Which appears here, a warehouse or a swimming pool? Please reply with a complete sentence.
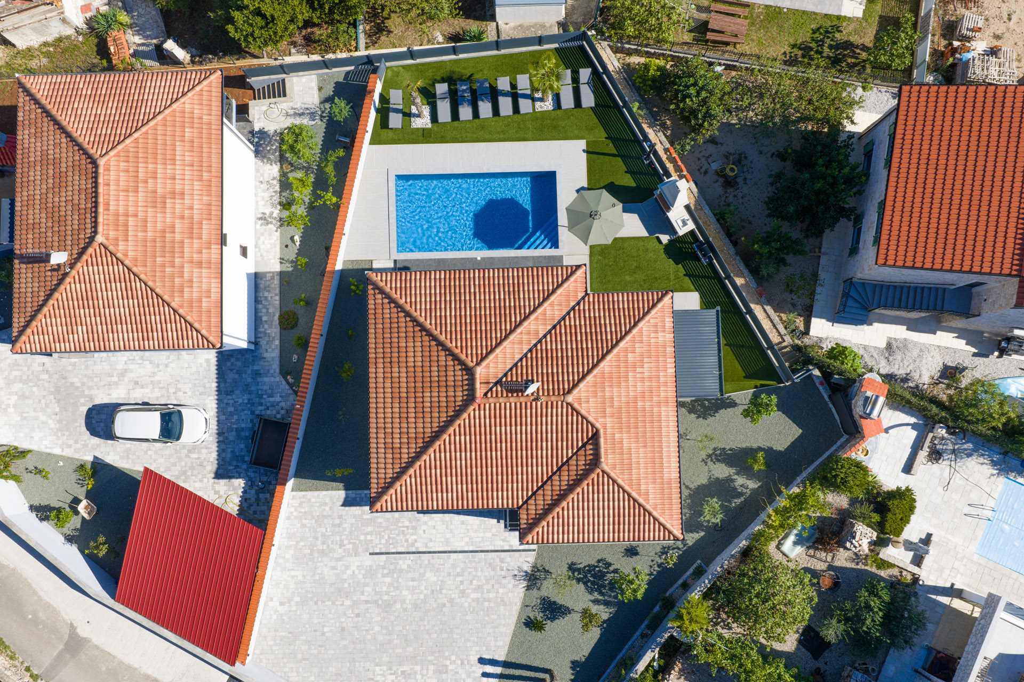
I can see a swimming pool in this picture.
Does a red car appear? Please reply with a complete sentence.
No, there isn't any red car down there.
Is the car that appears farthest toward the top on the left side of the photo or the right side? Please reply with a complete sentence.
The car that appears farthest toward the top appears in the left half of the scene.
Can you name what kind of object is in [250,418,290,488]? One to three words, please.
trailer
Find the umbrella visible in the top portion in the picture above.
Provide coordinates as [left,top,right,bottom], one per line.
[566,189,624,246]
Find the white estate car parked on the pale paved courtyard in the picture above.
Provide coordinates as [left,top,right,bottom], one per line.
[109,402,209,448]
